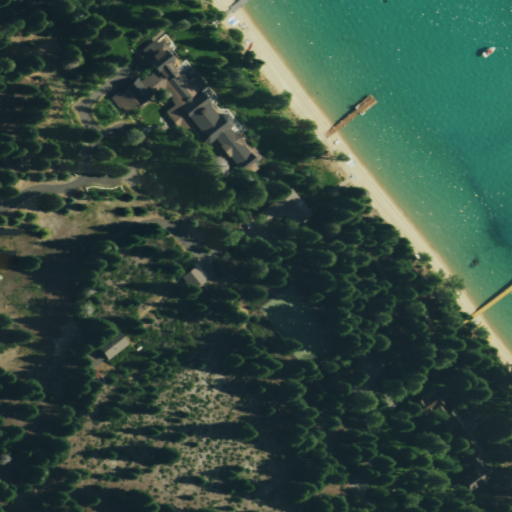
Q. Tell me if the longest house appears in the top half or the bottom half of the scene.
top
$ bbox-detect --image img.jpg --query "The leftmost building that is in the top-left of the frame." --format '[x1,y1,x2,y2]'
[112,92,140,113]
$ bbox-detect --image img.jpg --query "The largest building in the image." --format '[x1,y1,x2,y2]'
[130,34,263,172]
